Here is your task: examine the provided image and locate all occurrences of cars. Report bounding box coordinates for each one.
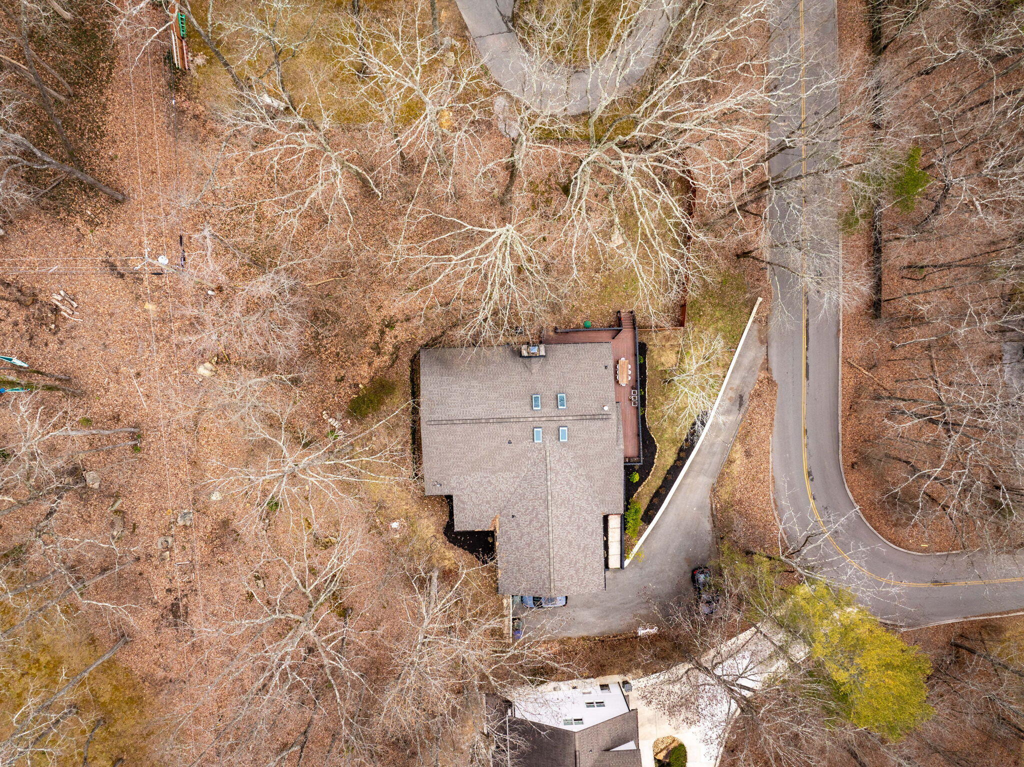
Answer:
[690,564,719,614]
[523,595,568,608]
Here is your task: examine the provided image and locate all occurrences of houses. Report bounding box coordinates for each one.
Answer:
[419,341,624,598]
[485,680,646,767]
